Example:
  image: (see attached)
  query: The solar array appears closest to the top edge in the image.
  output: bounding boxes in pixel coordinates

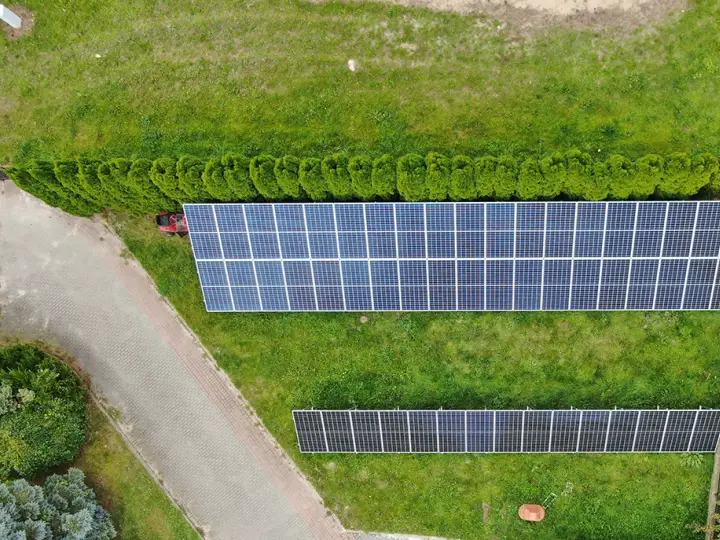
[184,200,720,311]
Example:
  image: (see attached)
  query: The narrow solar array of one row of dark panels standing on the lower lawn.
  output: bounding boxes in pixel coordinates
[292,406,720,453]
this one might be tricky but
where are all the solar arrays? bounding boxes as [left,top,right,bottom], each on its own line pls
[184,200,720,311]
[292,406,720,453]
